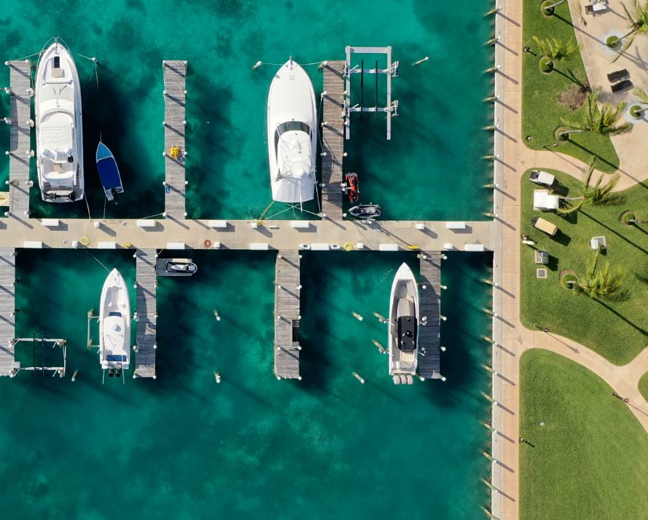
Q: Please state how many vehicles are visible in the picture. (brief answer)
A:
two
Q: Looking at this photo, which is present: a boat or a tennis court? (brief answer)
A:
boat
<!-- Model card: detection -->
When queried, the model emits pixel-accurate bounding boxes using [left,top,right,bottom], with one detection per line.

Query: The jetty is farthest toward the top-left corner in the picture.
[9,61,32,219]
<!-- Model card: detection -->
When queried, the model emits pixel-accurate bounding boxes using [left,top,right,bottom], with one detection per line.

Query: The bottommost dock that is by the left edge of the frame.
[0,248,16,375]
